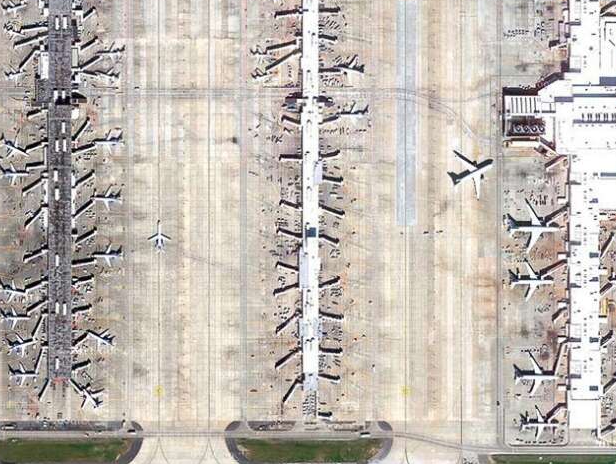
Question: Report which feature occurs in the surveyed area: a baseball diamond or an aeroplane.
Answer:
aeroplane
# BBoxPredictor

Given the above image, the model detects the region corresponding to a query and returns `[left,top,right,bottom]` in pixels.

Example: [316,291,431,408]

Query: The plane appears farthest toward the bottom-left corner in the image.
[10,364,38,386]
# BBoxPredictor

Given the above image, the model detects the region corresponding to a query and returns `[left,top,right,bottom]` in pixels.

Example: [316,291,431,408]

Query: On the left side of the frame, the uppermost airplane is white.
[2,0,26,17]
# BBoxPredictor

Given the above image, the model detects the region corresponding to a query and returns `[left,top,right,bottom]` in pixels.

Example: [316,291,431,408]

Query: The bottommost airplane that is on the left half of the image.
[80,387,103,410]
